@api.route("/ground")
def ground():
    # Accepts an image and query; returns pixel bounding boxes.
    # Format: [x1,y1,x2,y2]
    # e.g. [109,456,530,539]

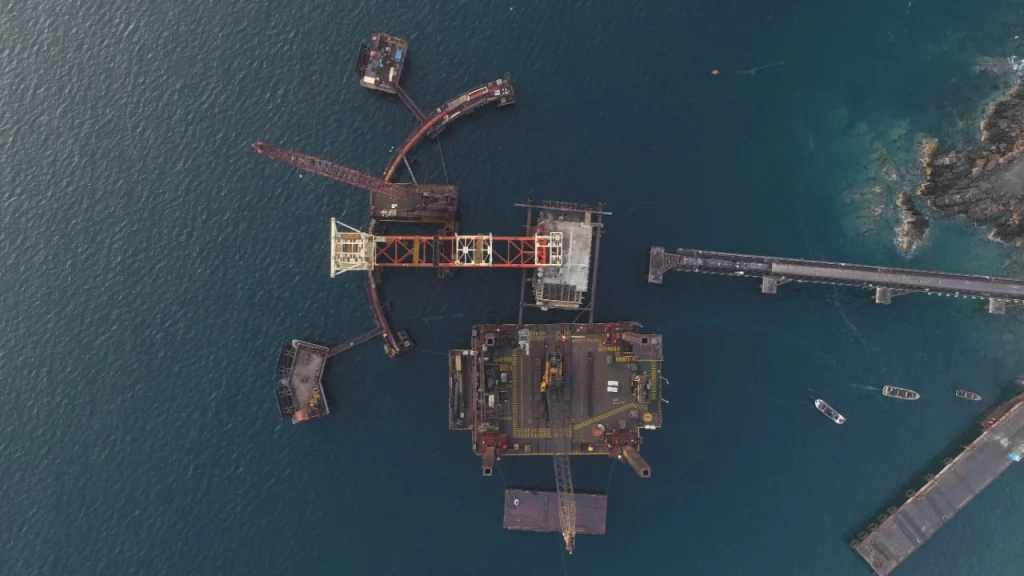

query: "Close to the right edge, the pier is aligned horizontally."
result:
[642,247,1024,313]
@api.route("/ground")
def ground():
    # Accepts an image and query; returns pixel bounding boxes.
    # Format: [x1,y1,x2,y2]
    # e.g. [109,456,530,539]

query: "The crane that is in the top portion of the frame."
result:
[248,142,461,214]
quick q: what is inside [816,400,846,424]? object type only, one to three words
boat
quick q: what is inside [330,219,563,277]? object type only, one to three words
bridge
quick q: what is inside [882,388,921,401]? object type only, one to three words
boat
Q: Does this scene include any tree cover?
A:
No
